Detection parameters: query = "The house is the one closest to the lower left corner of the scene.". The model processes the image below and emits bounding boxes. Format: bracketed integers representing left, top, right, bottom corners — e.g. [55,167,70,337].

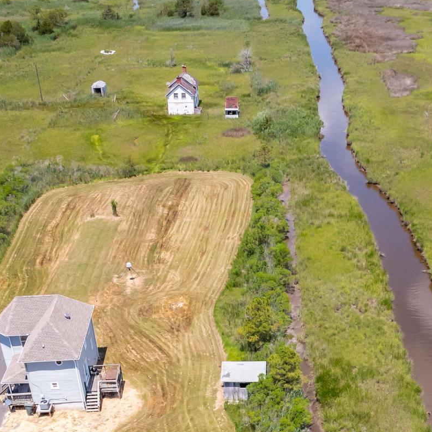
[0,293,123,411]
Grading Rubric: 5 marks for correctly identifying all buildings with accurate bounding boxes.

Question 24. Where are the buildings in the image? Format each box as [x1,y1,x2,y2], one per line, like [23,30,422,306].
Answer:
[224,98,240,118]
[165,54,202,114]
[0,293,123,411]
[92,79,108,97]
[221,358,266,401]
